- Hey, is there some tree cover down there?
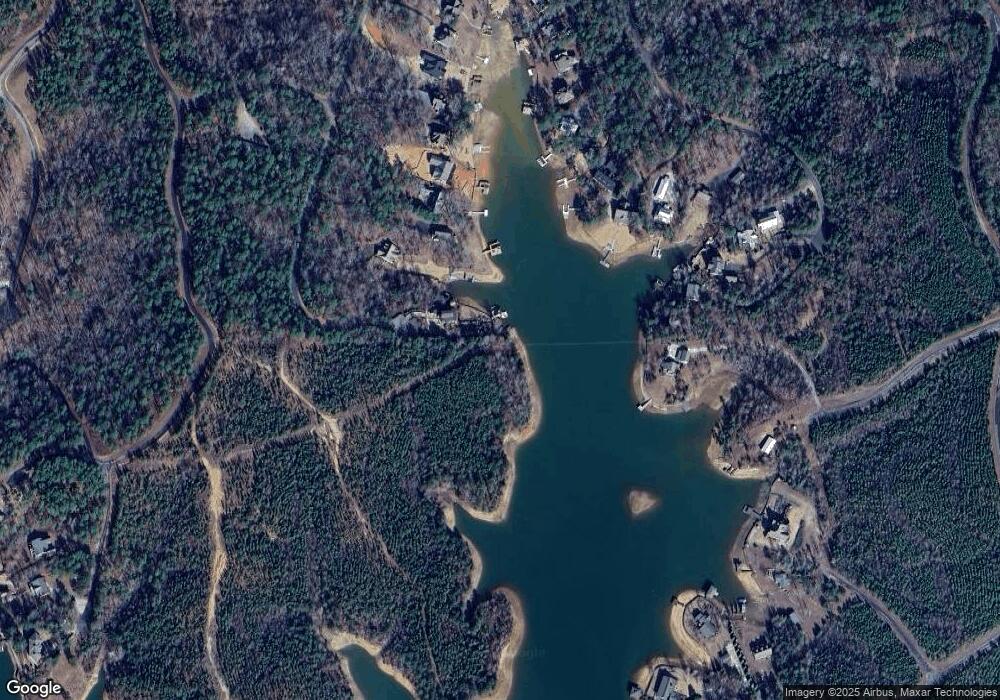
Yes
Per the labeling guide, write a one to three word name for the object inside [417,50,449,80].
house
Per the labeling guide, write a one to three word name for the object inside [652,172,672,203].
barn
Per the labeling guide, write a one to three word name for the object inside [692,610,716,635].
house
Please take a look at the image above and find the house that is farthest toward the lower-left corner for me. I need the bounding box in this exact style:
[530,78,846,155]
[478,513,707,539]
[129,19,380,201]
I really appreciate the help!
[24,638,45,667]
